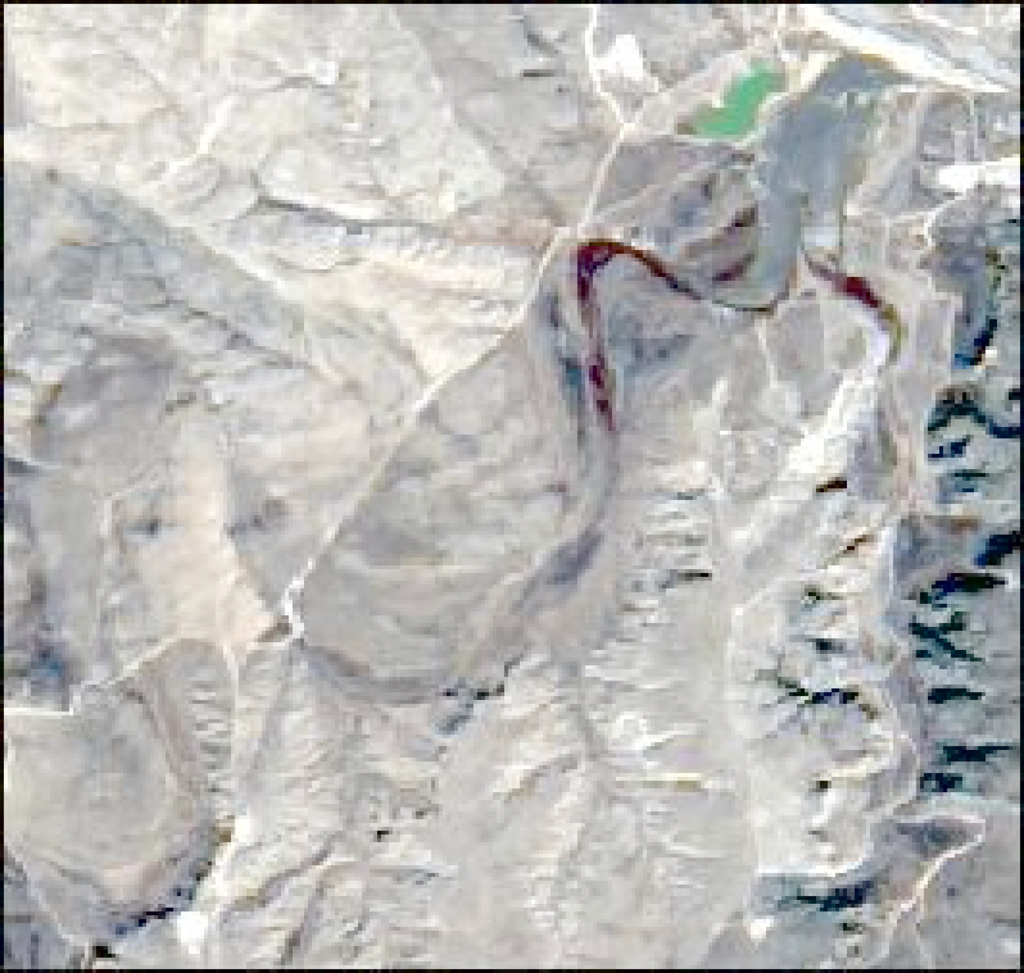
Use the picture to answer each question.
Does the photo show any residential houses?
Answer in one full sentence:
No, this view has no residential house in it.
